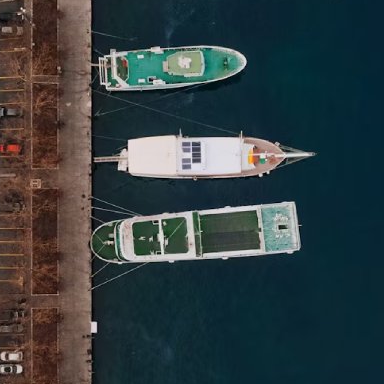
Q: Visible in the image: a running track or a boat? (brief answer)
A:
boat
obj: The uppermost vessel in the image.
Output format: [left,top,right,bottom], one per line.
[90,46,247,92]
